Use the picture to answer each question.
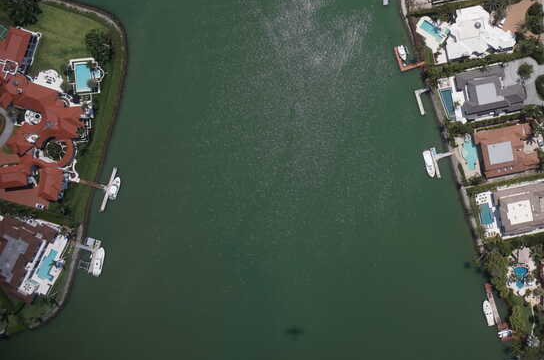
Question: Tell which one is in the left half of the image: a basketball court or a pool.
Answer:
pool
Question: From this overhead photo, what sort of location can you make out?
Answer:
residential area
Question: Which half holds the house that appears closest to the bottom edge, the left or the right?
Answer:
left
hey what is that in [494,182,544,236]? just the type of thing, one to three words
house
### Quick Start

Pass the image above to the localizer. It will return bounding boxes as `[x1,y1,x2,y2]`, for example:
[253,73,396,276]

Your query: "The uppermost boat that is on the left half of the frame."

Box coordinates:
[107,177,120,202]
